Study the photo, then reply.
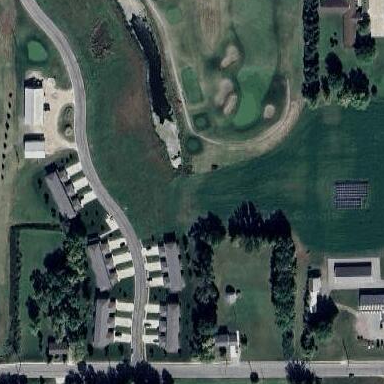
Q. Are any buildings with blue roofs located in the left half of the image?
No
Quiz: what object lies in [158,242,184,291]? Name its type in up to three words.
house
